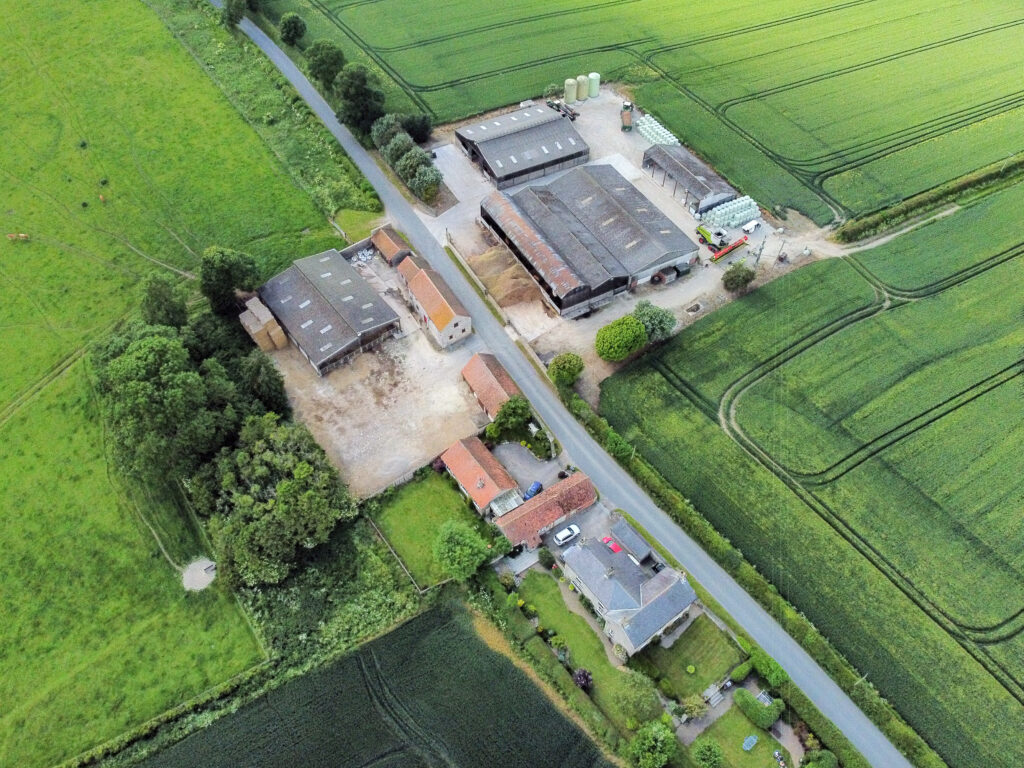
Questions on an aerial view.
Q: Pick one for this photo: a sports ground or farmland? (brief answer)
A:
farmland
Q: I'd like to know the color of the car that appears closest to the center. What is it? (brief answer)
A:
blue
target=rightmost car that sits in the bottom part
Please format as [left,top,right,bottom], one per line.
[648,561,671,576]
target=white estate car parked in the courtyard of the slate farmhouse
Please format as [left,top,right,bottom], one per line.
[552,525,581,548]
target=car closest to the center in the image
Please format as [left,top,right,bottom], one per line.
[522,477,544,502]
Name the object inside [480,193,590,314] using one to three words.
barn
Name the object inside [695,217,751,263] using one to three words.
work vehicle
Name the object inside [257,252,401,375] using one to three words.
shed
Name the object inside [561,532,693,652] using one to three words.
house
